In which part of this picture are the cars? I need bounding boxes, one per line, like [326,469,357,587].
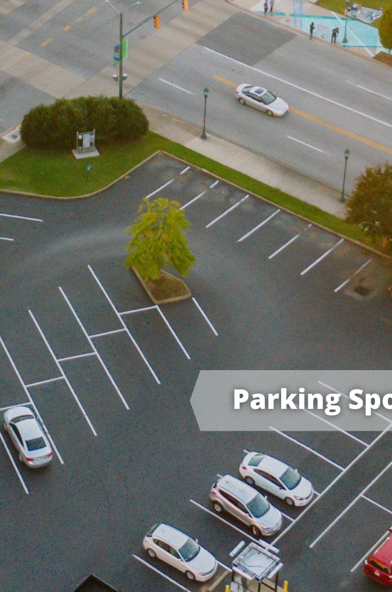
[367,530,392,586]
[232,83,292,118]
[143,525,217,583]
[240,454,318,509]
[2,409,50,466]
[208,478,285,537]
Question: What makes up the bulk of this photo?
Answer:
paved ground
